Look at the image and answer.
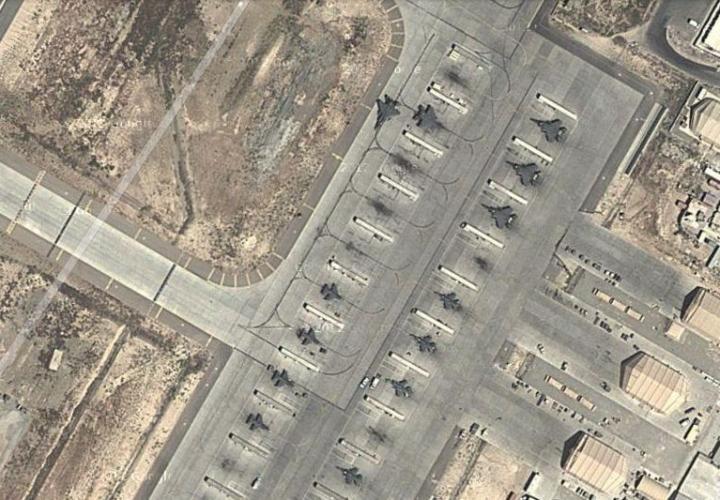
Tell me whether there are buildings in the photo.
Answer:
Yes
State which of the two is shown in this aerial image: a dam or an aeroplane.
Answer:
aeroplane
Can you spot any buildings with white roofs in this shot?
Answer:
Yes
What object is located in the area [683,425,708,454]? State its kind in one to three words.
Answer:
building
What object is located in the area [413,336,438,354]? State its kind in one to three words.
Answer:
airplane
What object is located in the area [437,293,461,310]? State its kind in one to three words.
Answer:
airplane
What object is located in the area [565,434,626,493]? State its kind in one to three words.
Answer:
hangar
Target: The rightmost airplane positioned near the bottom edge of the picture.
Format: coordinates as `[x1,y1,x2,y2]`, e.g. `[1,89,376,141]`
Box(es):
[338,468,362,486]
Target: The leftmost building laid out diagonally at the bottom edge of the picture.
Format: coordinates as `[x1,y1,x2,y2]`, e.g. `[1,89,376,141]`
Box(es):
[521,472,549,500]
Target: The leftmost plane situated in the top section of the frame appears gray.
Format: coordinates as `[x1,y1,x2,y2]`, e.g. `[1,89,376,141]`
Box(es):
[379,98,400,131]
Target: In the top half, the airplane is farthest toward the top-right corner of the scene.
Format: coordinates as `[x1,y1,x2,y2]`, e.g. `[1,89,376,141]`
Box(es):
[534,121,566,143]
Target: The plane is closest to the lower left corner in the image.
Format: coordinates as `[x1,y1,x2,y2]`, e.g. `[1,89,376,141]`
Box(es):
[247,413,271,430]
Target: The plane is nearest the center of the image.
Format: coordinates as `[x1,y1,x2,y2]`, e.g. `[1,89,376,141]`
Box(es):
[320,283,345,300]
